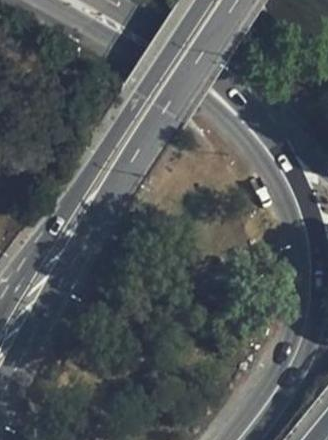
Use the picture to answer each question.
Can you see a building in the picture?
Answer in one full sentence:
No, no building is visible in the scene.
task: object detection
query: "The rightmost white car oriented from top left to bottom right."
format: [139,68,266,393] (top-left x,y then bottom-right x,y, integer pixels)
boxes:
[276,152,293,173]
